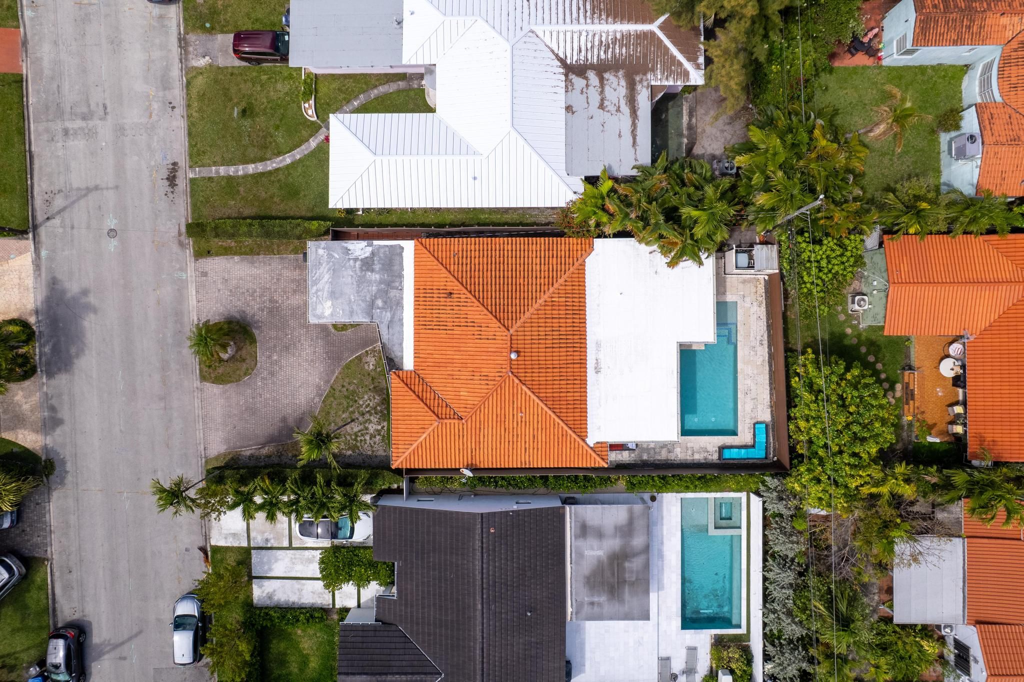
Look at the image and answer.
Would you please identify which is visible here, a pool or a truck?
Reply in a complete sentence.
The image shows a pool.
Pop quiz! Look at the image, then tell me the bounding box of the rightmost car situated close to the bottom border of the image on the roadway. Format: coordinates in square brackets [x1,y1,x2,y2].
[165,597,204,672]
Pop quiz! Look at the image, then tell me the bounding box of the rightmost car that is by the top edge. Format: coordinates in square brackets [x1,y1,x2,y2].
[230,24,289,64]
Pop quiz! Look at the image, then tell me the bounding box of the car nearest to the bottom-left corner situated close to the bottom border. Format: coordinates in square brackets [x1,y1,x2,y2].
[46,626,86,682]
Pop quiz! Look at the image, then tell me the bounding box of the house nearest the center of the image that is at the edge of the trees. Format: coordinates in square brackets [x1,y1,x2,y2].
[307,236,715,470]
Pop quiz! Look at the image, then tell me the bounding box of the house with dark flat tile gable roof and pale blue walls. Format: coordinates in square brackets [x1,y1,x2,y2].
[335,494,650,682]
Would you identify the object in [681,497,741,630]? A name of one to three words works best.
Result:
swimming pool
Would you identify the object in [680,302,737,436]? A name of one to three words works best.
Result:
swimming pool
